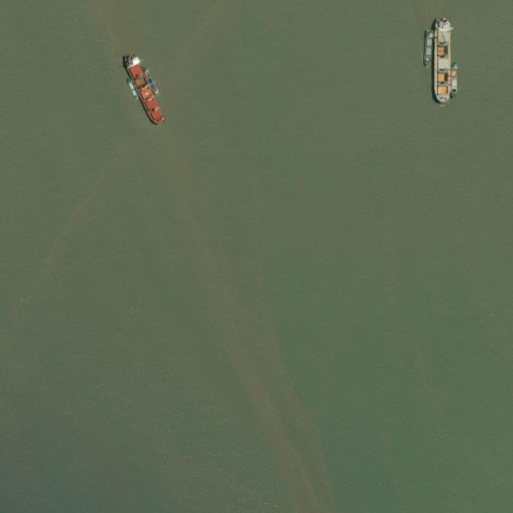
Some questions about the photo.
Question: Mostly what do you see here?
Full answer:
The bulk of the photo consists of water.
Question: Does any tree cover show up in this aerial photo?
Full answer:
No, the picture contains no tree cover.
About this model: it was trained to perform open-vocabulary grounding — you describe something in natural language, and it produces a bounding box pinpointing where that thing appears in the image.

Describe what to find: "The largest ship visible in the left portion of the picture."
[126,54,162,124]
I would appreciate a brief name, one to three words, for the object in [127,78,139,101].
ship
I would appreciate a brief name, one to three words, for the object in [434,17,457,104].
ship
